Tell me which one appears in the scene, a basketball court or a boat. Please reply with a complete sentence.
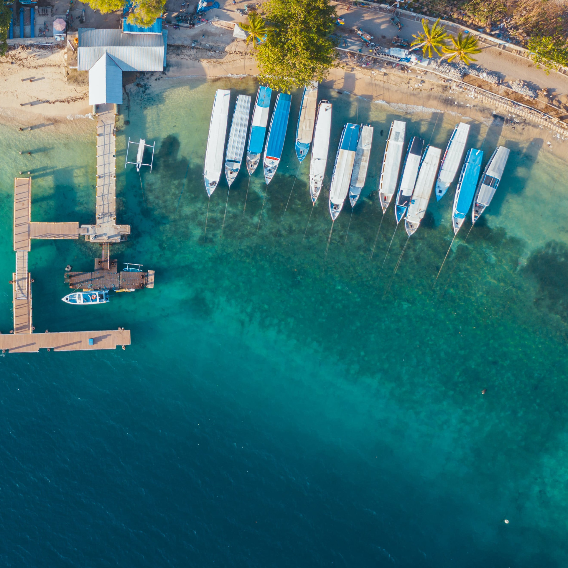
It is a boat that can be seen here.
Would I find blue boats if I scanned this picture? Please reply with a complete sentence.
Yes, the photo shows a blue boat.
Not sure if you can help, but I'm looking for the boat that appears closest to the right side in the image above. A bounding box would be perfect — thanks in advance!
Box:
[464,146,509,238]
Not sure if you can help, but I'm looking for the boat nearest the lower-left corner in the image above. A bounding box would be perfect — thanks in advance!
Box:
[62,290,111,305]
